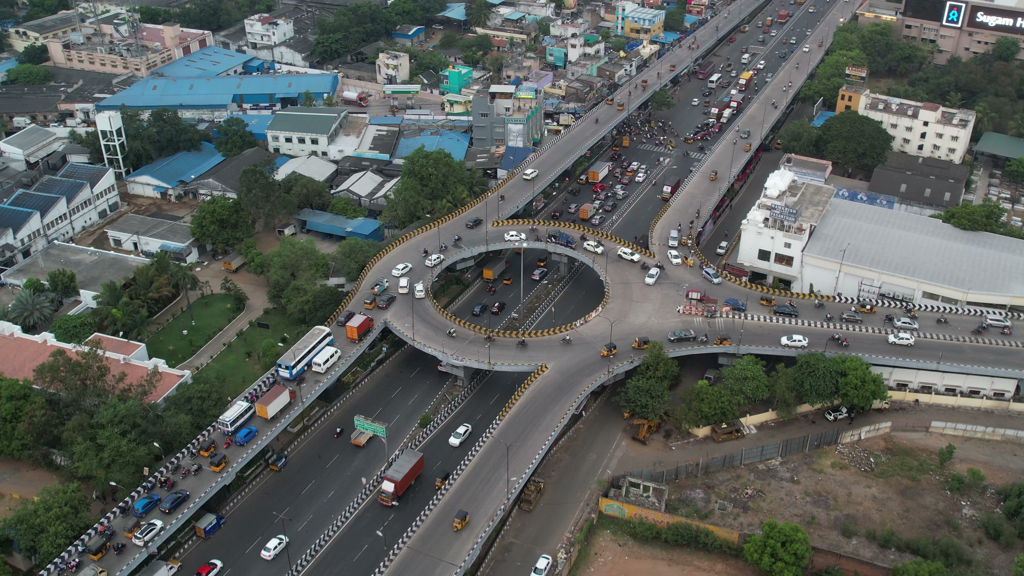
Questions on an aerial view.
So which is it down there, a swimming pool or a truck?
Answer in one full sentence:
Visible in the photo is a truck.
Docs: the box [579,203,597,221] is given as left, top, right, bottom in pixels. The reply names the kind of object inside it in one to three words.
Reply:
vehicle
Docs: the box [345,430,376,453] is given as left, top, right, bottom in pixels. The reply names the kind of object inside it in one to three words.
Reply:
truck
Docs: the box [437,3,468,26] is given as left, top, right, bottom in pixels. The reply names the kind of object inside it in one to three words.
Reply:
shed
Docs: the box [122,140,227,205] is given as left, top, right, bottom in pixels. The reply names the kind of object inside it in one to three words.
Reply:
shed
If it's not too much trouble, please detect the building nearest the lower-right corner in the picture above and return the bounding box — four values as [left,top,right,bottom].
[883,370,1021,412]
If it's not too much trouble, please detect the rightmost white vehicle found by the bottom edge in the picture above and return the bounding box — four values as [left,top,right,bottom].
[530,550,554,576]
